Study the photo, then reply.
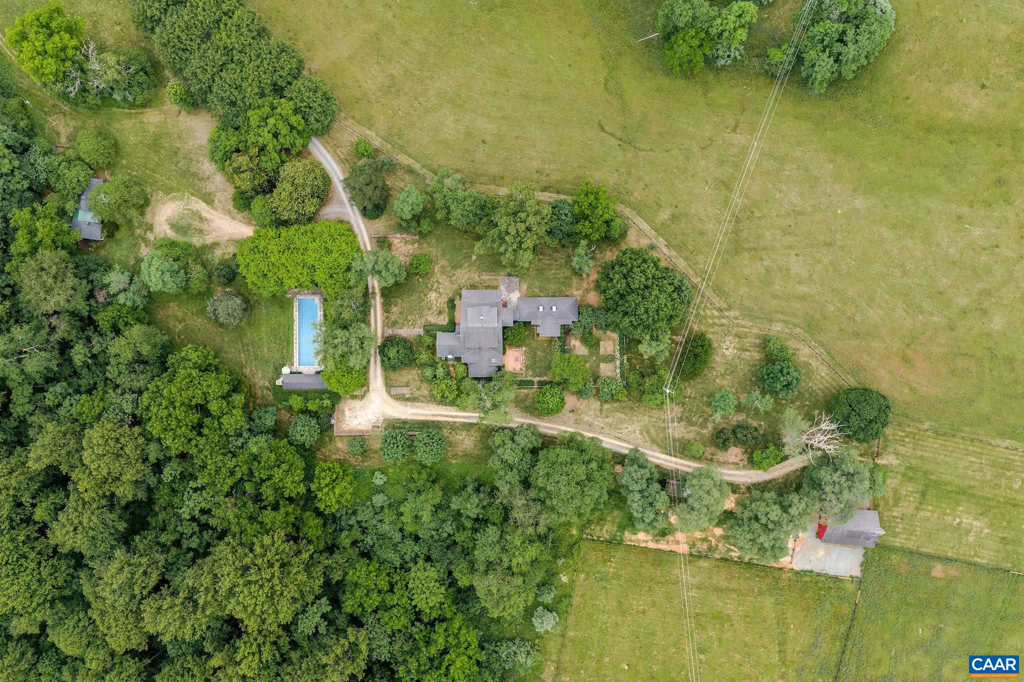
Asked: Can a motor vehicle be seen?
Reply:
No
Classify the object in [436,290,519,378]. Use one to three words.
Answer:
house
